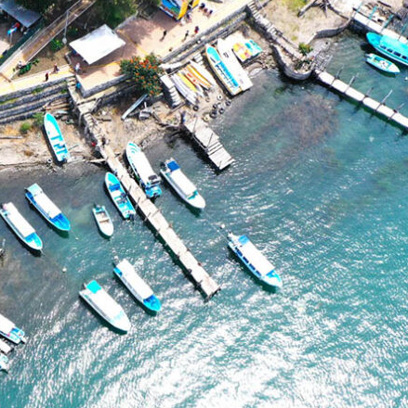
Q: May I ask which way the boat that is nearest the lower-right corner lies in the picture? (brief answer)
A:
diagonally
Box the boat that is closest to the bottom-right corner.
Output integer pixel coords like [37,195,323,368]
[223,230,282,288]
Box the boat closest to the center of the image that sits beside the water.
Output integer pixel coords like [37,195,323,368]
[157,155,205,209]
